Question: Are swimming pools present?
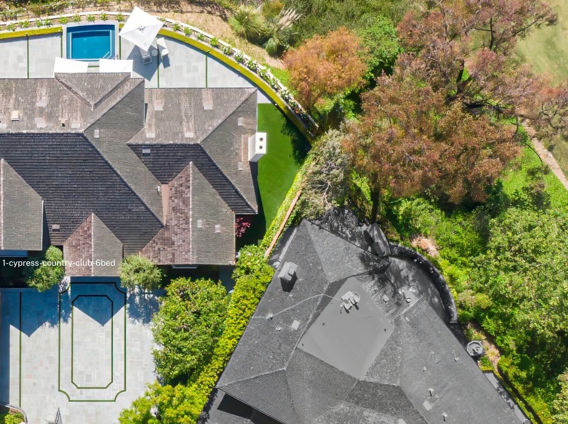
Yes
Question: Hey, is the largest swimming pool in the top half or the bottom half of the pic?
top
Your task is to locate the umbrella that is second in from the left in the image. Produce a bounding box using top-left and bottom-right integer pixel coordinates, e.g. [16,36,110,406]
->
[99,59,133,73]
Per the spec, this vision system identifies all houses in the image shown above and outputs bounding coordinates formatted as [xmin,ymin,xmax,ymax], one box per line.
[217,218,528,424]
[0,72,268,406]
